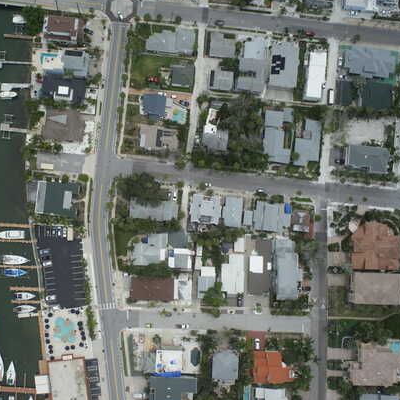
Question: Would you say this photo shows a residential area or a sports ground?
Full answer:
What you see here is a residential area.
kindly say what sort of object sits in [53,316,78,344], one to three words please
swimming pool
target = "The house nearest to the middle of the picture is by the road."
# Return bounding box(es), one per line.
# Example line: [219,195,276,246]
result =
[191,194,222,224]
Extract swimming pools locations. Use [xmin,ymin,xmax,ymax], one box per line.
[39,53,58,65]
[53,316,78,344]
[190,347,202,368]
[171,109,186,122]
[243,387,249,400]
[389,342,400,351]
